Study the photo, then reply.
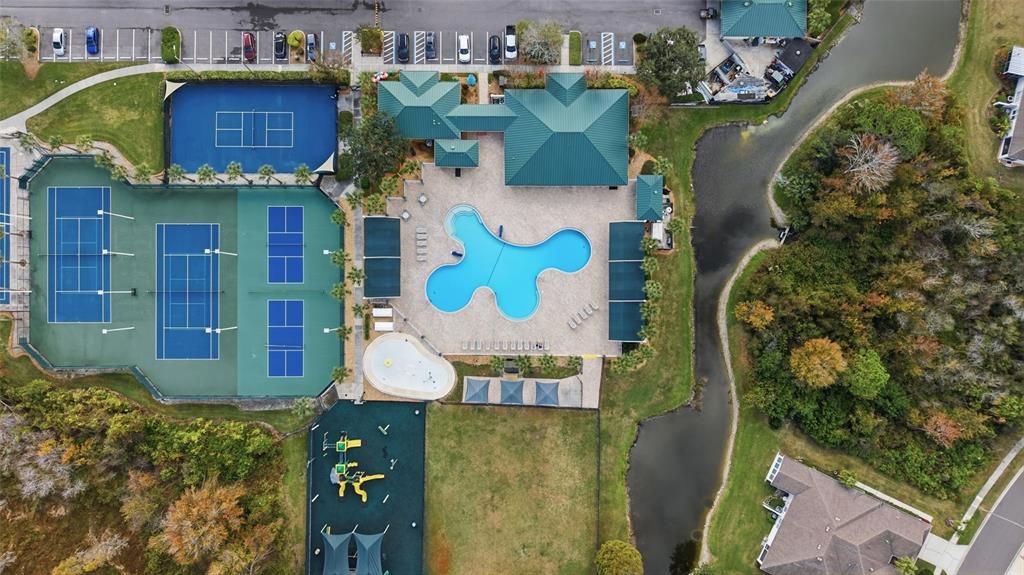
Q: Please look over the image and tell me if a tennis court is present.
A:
Yes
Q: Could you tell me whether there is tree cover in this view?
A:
Yes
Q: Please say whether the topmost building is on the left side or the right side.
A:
right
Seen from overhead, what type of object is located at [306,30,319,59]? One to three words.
vehicle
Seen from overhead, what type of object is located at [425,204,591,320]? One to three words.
swimming pool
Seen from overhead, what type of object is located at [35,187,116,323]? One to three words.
tennis court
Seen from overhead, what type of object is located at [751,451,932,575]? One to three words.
house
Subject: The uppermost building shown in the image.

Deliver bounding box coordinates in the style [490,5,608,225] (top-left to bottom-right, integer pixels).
[717,0,807,42]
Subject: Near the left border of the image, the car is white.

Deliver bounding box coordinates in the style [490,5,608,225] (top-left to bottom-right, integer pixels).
[49,26,64,55]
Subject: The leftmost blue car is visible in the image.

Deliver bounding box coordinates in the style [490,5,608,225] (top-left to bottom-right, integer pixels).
[83,25,98,54]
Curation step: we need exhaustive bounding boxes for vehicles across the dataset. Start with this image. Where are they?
[49,26,64,55]
[457,32,470,61]
[771,69,790,92]
[306,30,319,59]
[83,25,98,54]
[488,33,501,63]
[273,30,286,58]
[425,29,437,58]
[241,30,255,59]
[504,24,518,58]
[396,30,409,61]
